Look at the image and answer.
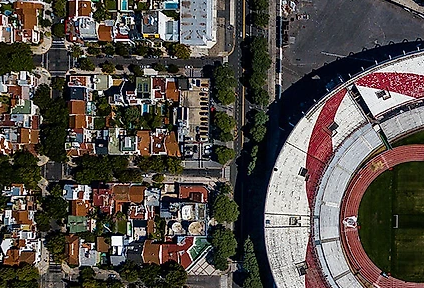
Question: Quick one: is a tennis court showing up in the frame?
No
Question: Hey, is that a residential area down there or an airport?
residential area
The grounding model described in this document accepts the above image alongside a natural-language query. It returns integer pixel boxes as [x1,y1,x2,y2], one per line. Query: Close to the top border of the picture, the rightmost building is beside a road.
[180,0,217,48]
